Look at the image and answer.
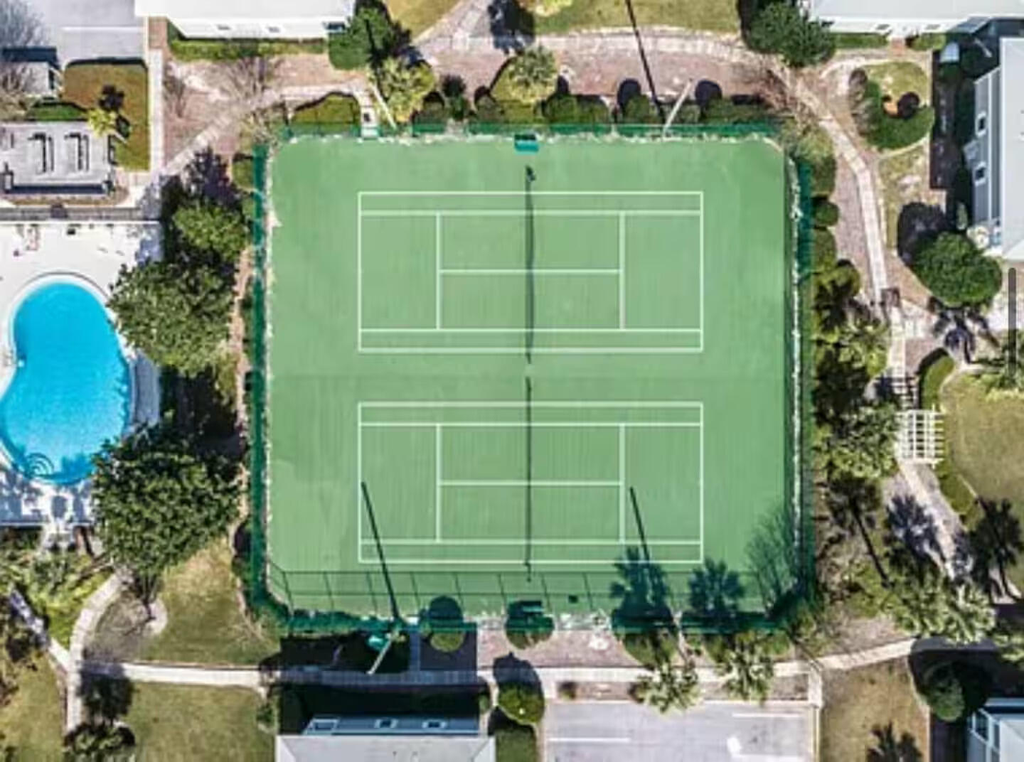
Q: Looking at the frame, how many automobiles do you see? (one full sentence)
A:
The picture shows no automobiles.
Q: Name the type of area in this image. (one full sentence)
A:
This image shows a sports ground.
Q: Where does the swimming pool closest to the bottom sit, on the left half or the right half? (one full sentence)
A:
The swimming pool closest to the bottom is on the left side of the image.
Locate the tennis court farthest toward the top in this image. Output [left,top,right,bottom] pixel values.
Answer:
[269,138,795,377]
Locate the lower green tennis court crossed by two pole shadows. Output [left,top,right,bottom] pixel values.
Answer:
[269,377,796,615]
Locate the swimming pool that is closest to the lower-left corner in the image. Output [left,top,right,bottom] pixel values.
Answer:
[0,276,138,493]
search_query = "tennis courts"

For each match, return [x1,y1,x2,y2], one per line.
[269,138,795,377]
[269,377,796,615]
